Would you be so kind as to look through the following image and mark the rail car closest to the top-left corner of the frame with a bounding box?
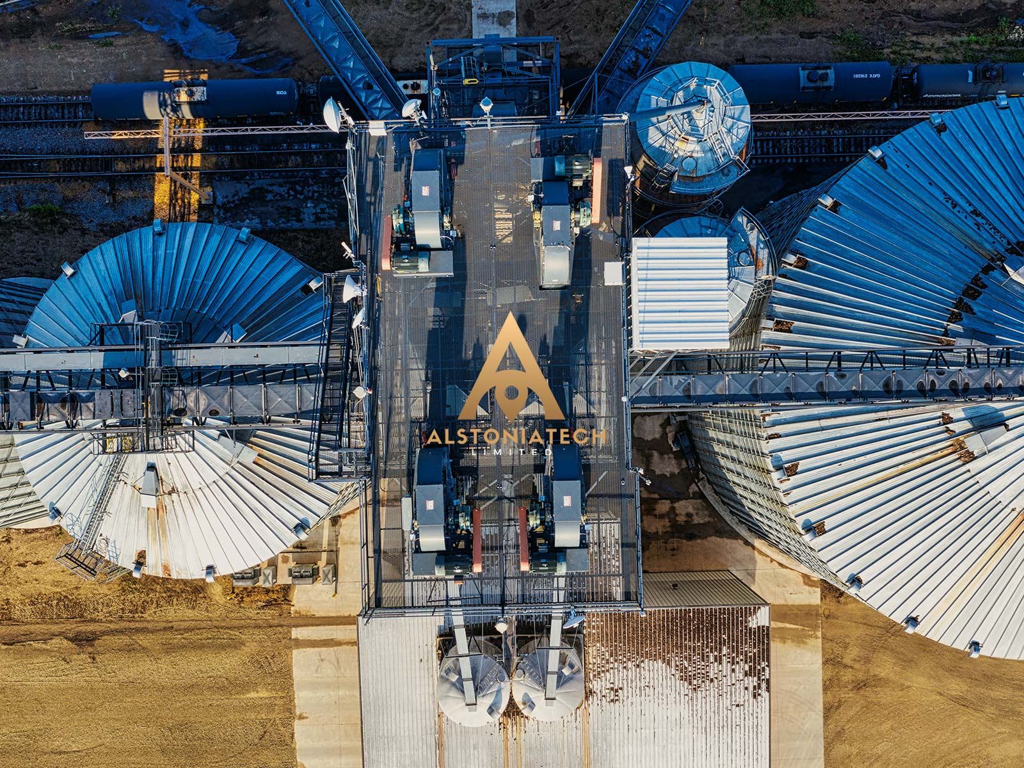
[91,72,312,128]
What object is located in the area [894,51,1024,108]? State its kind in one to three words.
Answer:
rail car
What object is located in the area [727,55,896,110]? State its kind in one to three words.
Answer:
rail car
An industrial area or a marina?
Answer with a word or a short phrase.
industrial area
